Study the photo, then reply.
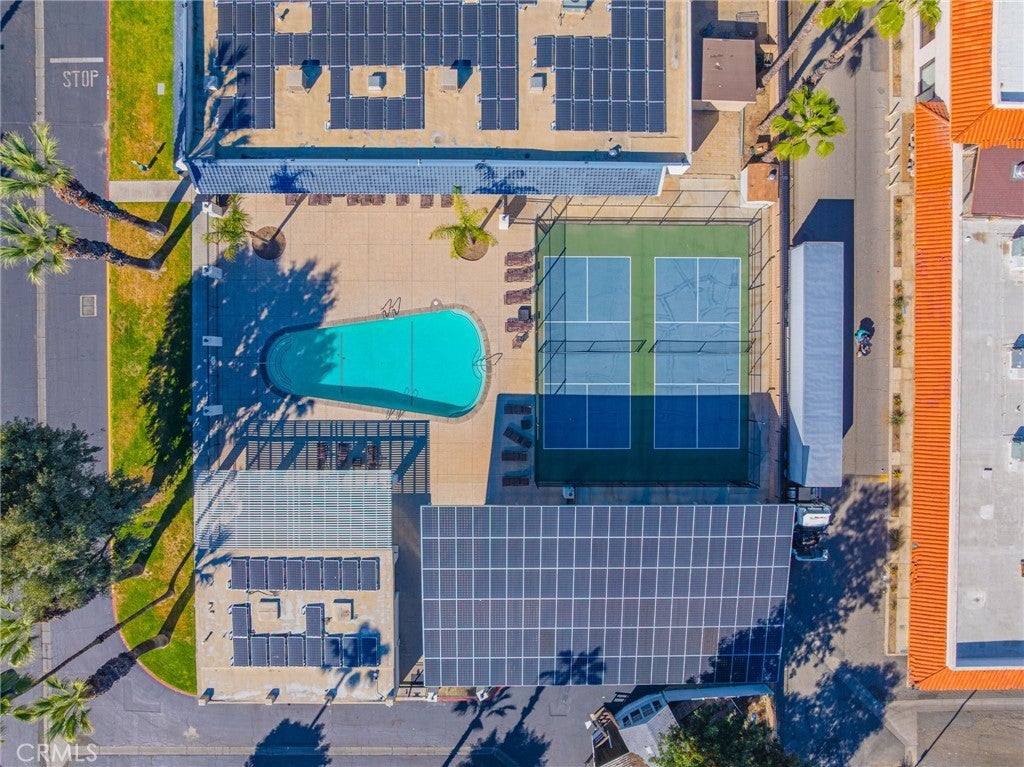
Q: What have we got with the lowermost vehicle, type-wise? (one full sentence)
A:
The lowermost vehicle appears to be a truck.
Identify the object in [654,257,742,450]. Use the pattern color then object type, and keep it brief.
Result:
blue sports court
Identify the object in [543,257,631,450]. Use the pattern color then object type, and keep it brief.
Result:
blue sports court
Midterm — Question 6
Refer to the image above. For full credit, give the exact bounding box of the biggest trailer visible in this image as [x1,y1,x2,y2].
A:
[790,241,844,488]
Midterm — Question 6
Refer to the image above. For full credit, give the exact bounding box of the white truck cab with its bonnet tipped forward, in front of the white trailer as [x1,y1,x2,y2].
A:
[783,483,838,561]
